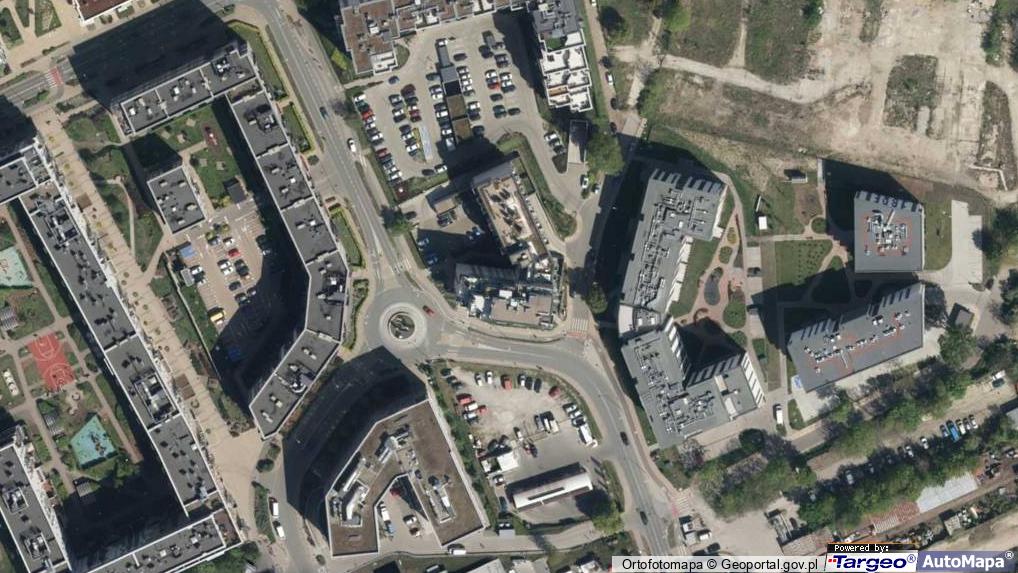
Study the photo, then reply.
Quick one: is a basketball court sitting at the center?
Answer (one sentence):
No, there is no basketball court at the center.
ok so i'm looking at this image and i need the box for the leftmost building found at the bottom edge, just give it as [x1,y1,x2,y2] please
[0,431,83,573]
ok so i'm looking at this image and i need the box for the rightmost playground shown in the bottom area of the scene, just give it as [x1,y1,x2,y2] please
[70,416,115,464]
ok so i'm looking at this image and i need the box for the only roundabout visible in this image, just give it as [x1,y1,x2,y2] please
[378,302,426,349]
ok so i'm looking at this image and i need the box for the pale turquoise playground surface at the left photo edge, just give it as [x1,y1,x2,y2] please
[0,246,31,288]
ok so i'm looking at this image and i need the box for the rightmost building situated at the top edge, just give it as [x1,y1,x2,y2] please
[531,0,594,112]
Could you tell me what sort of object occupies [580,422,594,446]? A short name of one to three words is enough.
vehicle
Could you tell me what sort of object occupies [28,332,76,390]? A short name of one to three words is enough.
basketball court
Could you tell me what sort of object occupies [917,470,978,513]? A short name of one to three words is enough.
shed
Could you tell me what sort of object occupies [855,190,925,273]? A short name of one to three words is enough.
building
